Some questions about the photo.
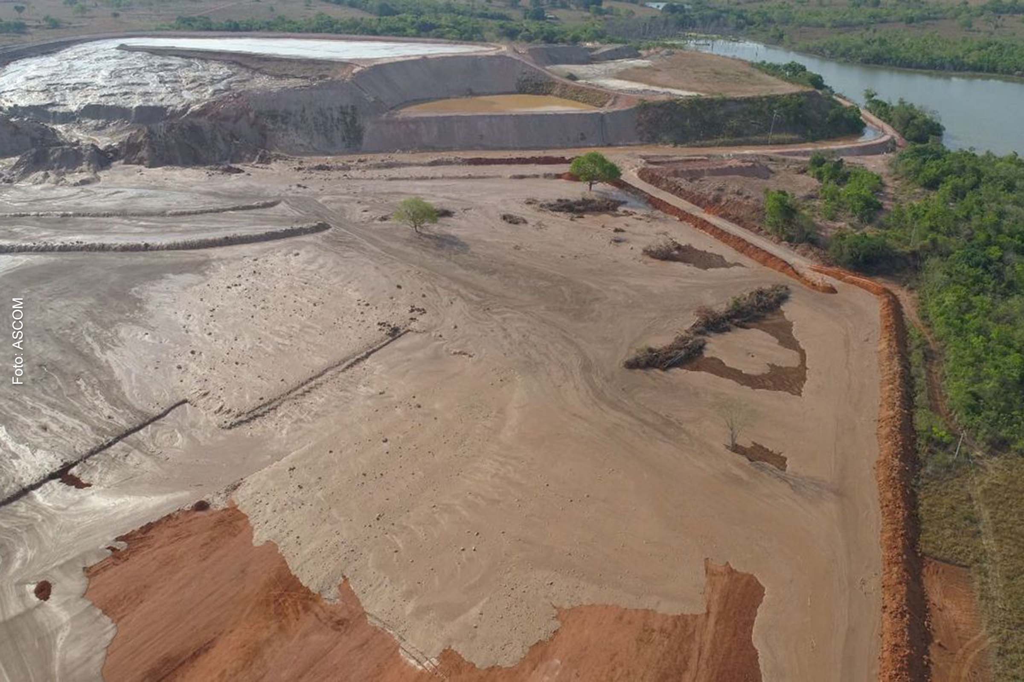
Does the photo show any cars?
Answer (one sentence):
No, I find no car anywhere in the image.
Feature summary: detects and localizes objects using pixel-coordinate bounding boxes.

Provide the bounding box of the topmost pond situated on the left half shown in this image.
[114,37,479,58]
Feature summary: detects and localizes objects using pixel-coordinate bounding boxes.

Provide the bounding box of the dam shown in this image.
[0,31,544,160]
